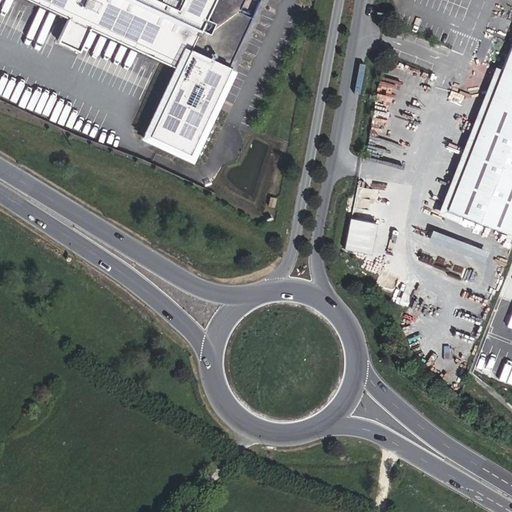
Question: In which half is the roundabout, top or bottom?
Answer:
bottom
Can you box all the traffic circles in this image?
[200,278,370,446]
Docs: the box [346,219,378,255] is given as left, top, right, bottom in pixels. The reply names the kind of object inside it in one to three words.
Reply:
shed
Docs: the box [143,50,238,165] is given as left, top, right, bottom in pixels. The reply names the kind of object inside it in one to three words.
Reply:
building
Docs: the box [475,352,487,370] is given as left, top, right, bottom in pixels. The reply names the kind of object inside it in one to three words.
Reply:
vehicle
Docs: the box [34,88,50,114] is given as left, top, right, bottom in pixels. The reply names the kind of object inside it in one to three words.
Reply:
vehicle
